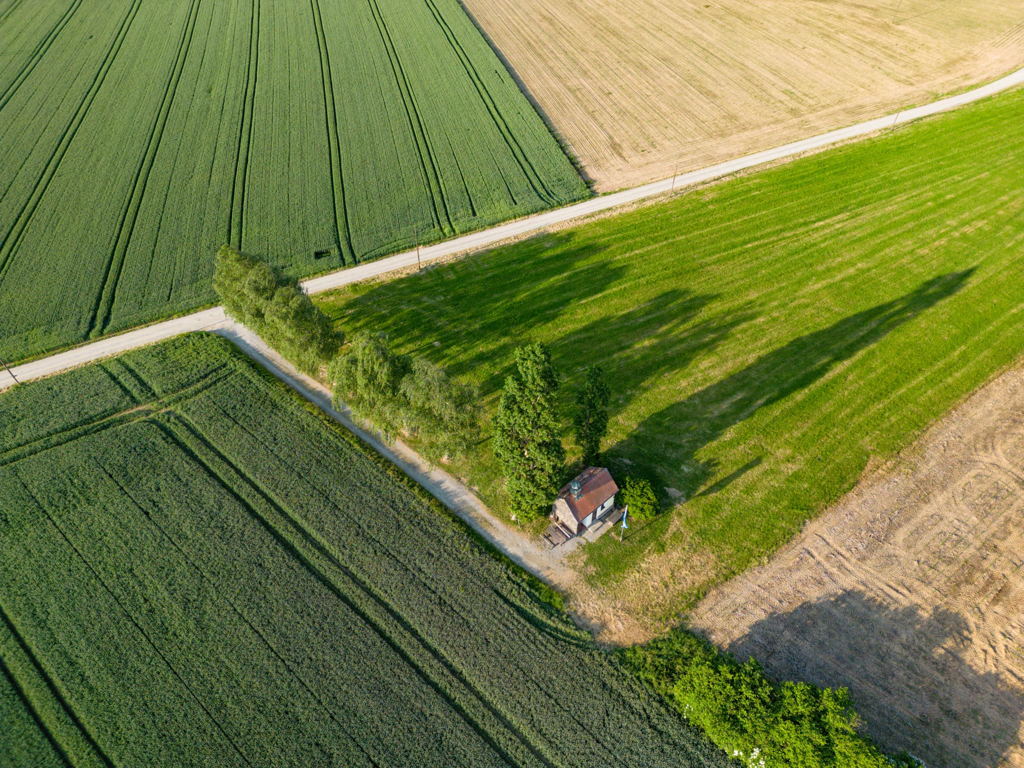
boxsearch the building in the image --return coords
[551,468,619,536]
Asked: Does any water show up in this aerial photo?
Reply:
No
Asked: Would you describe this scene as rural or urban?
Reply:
rural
